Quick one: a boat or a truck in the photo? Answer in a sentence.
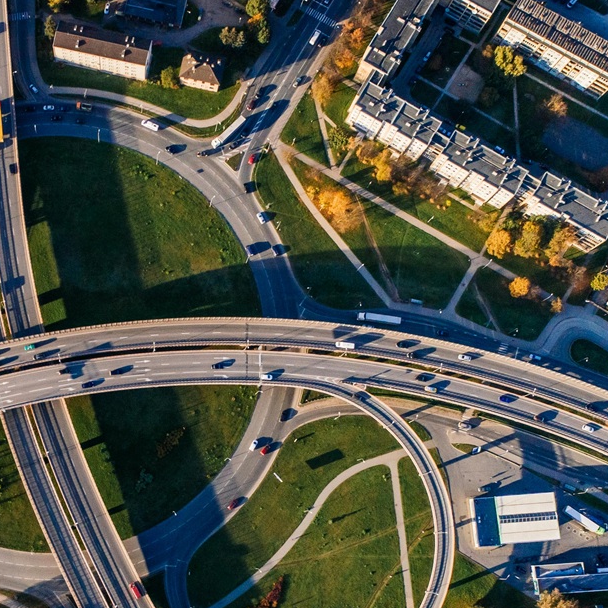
This aerial view contains a truck.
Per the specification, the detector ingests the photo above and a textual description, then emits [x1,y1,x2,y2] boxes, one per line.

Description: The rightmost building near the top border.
[493,0,608,98]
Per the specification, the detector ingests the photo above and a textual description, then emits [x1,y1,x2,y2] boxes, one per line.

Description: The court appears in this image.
[542,117,608,171]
